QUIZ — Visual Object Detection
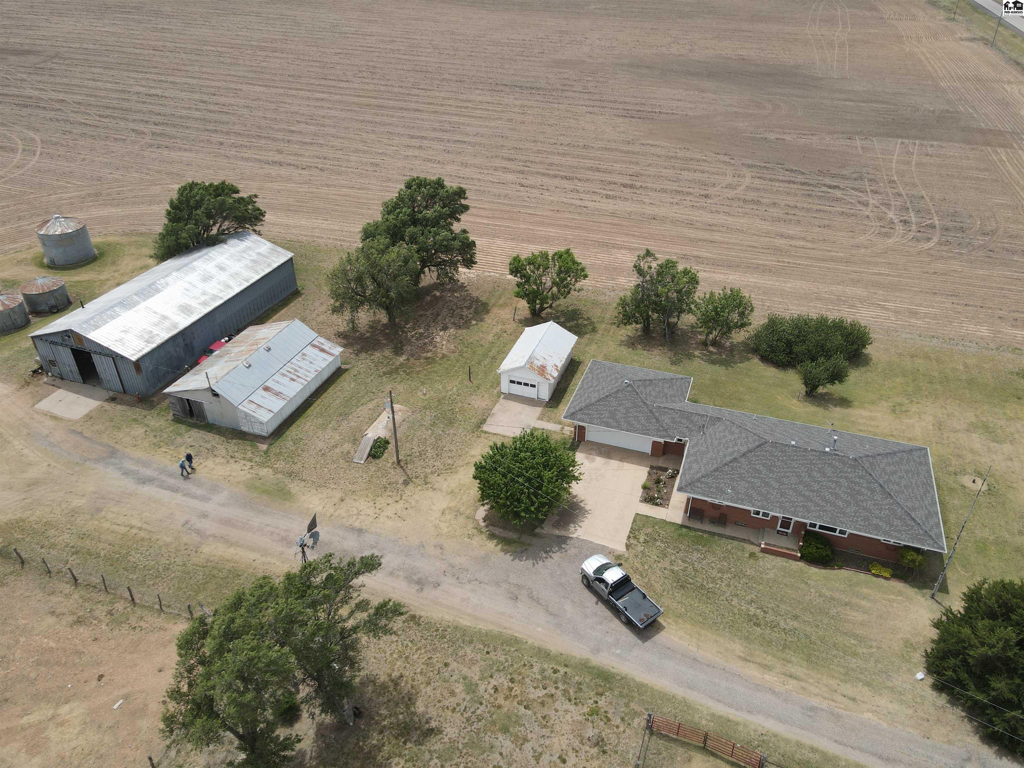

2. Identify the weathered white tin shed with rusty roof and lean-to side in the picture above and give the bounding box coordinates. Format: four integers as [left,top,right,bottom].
[162,318,342,438]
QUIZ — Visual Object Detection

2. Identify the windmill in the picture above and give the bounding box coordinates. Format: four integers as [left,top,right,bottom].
[292,513,323,574]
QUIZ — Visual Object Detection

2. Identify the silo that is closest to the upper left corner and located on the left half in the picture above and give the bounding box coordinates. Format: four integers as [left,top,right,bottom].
[34,213,95,261]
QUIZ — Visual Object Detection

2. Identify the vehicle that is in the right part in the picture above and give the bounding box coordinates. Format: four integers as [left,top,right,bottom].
[580,558,666,632]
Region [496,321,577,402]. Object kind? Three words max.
building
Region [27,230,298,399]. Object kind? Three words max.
barn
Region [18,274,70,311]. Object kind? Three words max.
silo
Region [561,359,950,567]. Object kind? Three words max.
house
